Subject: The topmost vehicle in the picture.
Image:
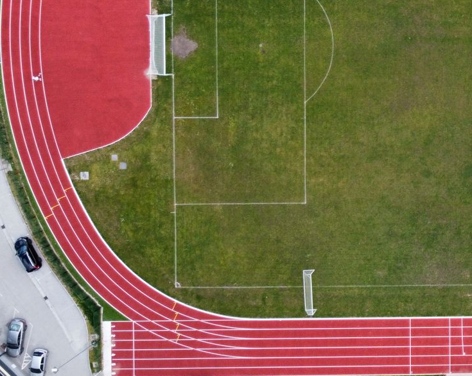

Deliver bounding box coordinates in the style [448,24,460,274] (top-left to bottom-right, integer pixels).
[14,236,40,273]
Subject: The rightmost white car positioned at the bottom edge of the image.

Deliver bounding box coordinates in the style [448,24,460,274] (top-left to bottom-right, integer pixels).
[27,348,48,376]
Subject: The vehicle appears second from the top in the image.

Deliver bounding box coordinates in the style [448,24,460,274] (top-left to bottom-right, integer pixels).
[4,318,27,357]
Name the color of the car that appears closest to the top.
black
